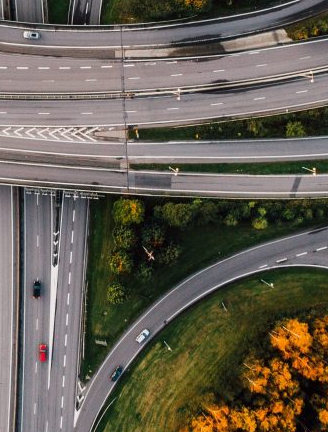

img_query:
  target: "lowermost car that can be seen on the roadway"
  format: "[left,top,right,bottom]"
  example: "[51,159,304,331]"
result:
[110,365,123,381]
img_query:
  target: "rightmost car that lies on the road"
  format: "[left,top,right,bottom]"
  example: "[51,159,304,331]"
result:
[135,328,150,343]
